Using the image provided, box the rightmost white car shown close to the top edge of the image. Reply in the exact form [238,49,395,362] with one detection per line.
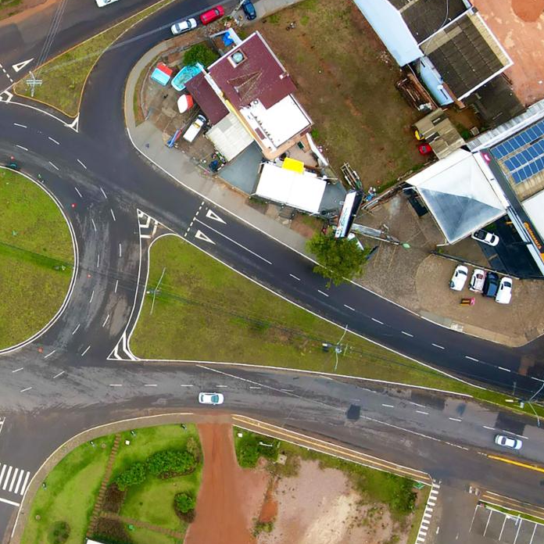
[170,18,198,33]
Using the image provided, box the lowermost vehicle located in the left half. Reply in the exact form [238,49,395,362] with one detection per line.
[199,393,223,405]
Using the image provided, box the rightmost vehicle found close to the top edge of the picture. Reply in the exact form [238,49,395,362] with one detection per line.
[242,0,257,20]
